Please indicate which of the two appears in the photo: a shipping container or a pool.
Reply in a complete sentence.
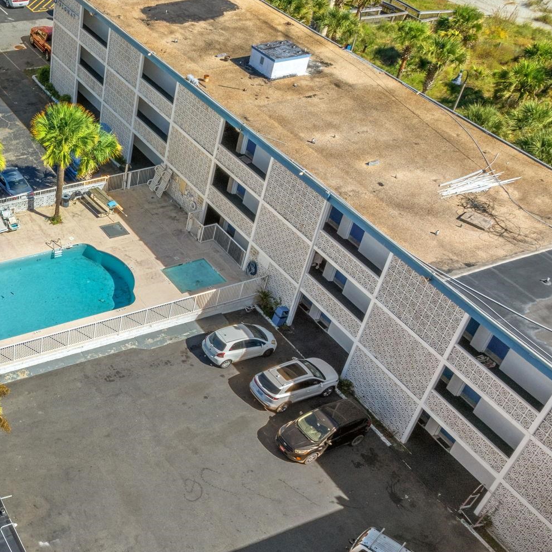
The one in the frame is a pool.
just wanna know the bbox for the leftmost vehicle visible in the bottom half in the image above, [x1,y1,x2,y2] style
[206,319,281,366]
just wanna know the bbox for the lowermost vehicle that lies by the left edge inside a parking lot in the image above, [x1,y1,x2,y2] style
[0,153,34,195]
